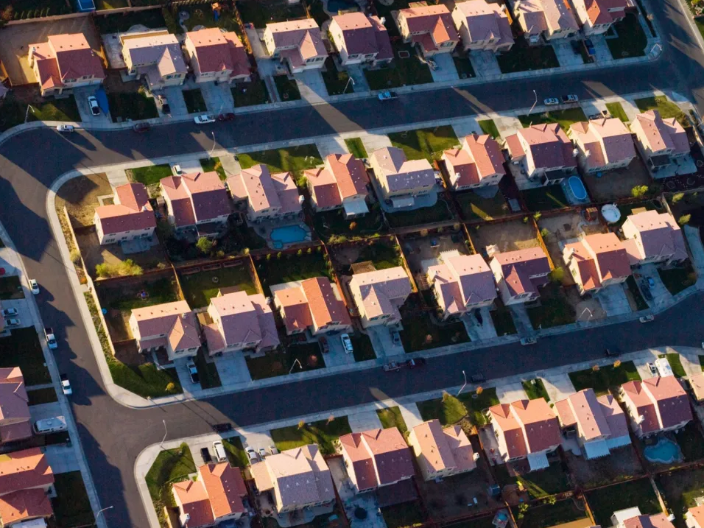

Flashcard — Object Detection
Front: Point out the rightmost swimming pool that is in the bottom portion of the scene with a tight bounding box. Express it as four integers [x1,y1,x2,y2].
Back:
[642,437,682,462]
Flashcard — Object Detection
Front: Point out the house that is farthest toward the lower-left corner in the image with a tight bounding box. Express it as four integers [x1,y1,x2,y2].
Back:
[0,453,55,528]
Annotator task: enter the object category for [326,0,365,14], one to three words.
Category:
swimming pool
